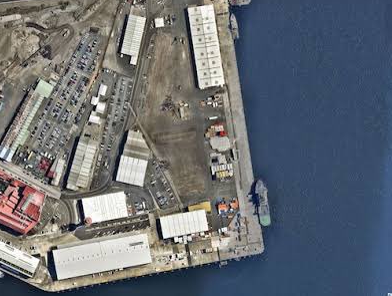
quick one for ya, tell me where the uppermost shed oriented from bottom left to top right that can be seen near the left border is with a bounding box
[2,85,51,152]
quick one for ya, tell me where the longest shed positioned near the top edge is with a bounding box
[188,5,225,89]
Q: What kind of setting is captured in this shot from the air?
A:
port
